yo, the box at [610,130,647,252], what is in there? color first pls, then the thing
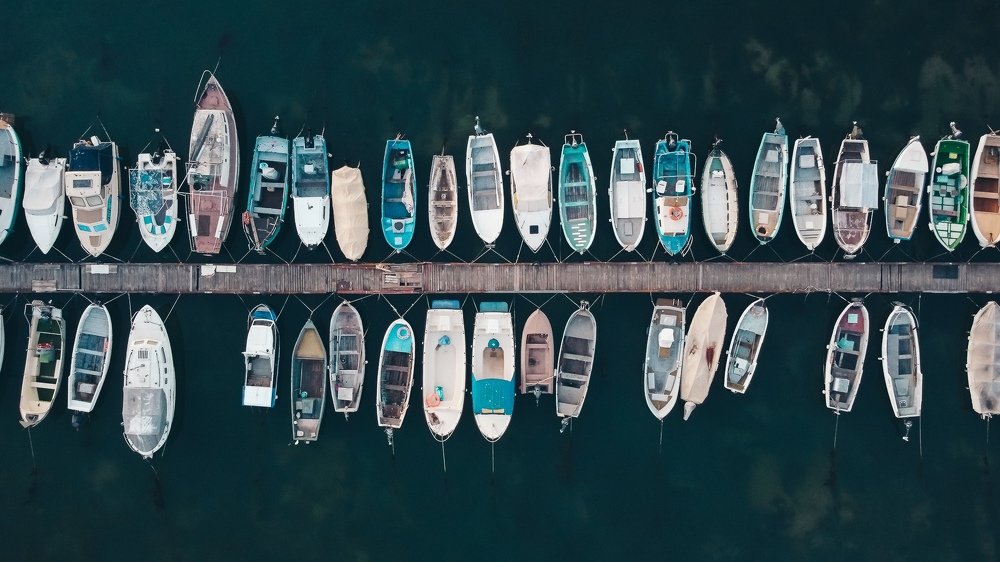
white boat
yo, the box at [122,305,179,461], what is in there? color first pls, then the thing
white boat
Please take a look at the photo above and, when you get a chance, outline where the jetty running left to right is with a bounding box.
[0,262,1000,294]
